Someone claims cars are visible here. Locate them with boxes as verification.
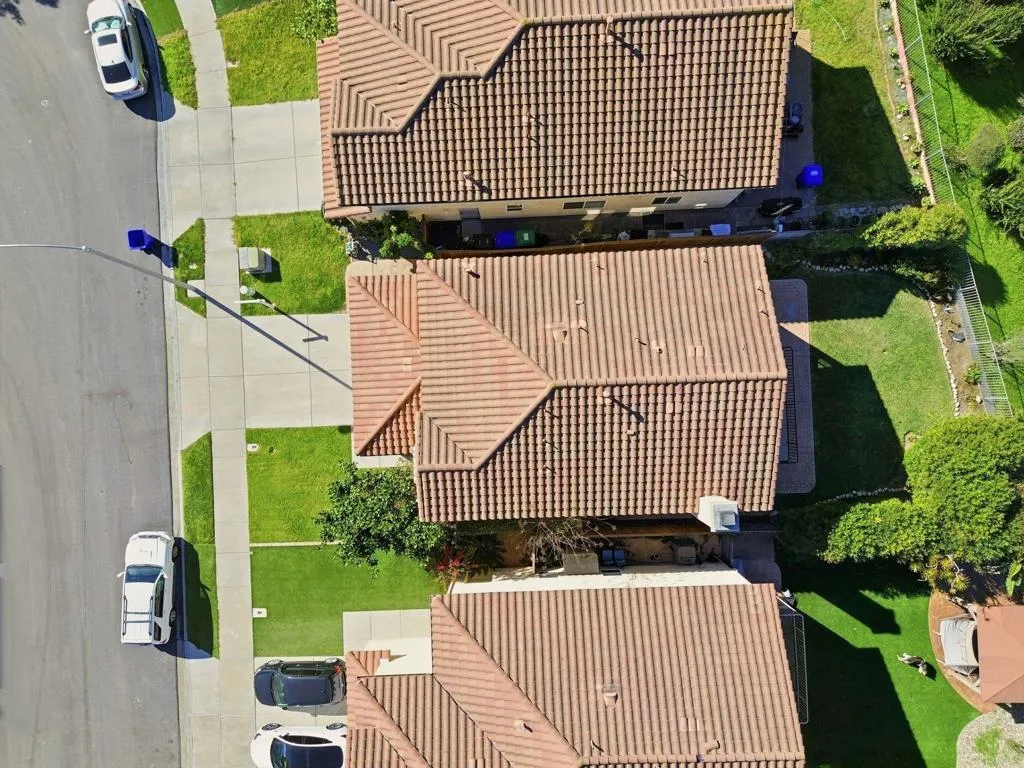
[118,531,179,645]
[249,723,348,768]
[83,0,152,105]
[254,659,347,712]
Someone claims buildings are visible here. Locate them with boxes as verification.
[317,0,798,237]
[346,244,802,532]
[344,561,808,768]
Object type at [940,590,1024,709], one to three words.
gazebo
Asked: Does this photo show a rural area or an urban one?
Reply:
urban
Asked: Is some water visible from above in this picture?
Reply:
No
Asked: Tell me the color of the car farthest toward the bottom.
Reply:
white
